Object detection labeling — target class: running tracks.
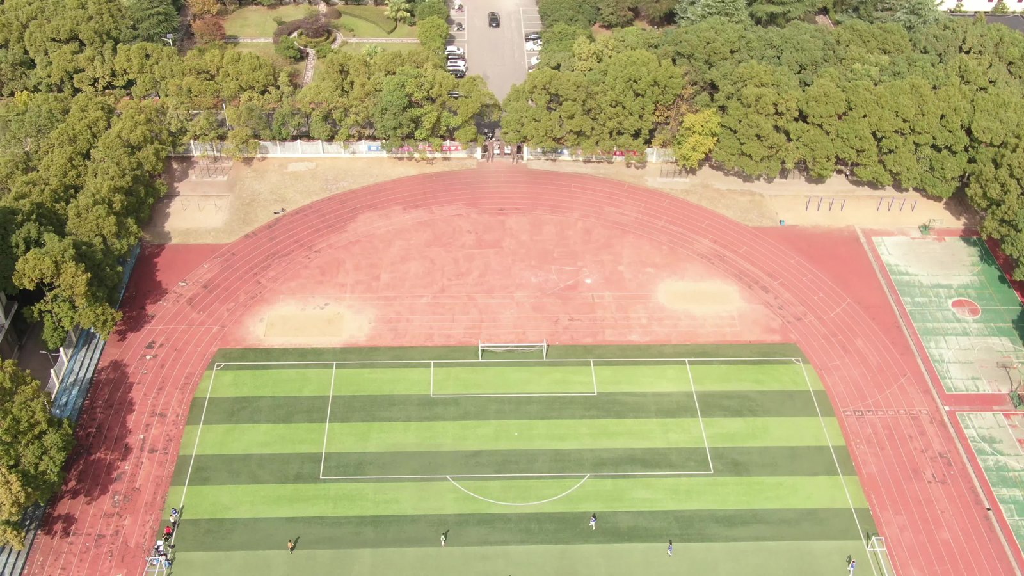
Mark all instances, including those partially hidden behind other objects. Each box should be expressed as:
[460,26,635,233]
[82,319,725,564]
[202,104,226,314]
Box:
[20,157,1018,576]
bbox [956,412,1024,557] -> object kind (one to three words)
basketball court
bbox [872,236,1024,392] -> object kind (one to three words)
basketball court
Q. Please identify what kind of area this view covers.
sports ground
